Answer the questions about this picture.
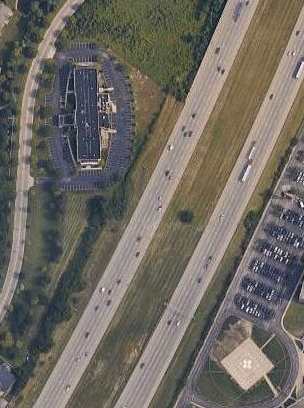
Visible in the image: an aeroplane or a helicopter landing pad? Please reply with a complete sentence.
The one in the frame is a helicopter landing pad.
